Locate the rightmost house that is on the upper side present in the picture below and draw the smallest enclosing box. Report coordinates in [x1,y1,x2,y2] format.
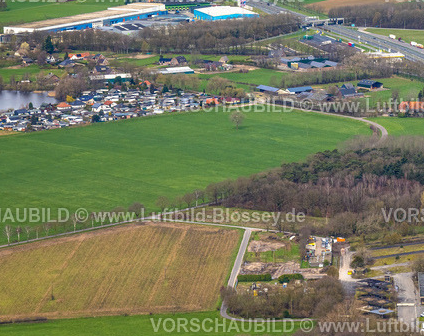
[397,101,424,114]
